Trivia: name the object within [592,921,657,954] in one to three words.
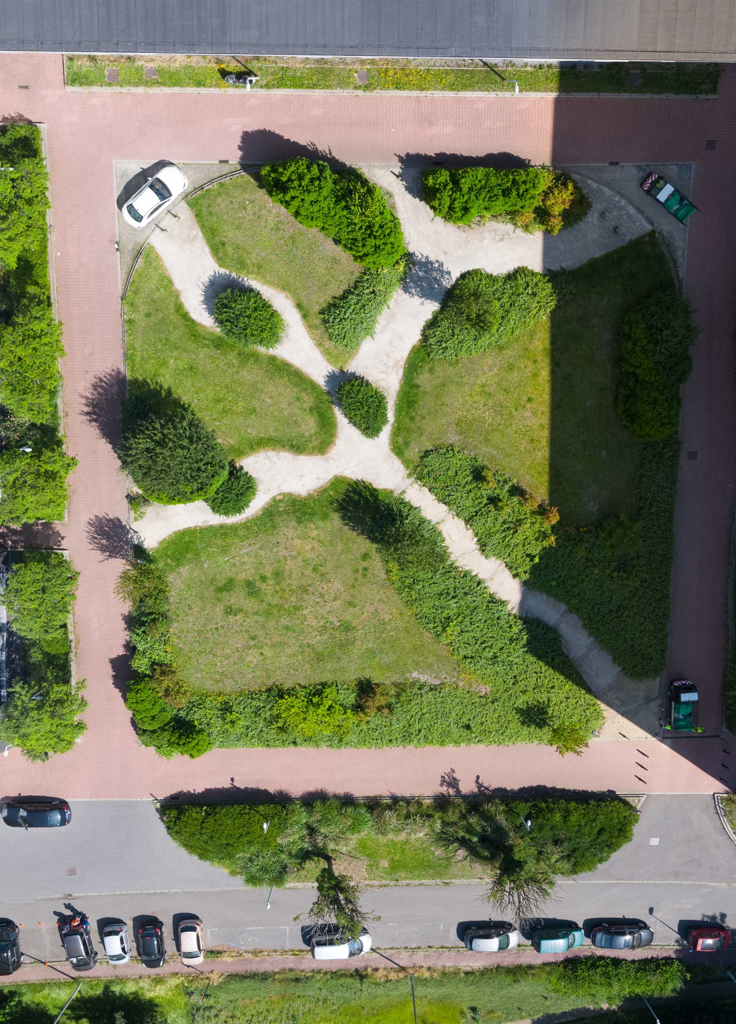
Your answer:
car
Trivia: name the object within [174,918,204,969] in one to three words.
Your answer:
car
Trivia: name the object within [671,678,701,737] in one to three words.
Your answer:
truck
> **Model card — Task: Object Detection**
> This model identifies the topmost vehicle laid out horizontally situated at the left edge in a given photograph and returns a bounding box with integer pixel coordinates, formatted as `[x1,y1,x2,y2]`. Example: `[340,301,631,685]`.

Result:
[0,800,69,833]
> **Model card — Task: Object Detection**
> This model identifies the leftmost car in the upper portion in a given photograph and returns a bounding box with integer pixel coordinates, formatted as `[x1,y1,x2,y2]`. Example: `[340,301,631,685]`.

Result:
[119,162,190,231]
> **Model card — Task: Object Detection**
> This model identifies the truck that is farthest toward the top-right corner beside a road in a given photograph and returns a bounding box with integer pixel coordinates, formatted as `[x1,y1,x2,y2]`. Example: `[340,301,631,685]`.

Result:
[645,171,707,223]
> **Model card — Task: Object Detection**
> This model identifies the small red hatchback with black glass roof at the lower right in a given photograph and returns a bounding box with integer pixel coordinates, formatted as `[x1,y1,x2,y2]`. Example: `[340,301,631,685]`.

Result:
[689,923,736,955]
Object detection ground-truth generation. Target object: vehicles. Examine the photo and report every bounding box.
[645,171,707,223]
[174,918,204,969]
[119,162,190,231]
[689,923,736,955]
[309,924,371,960]
[465,922,520,954]
[592,921,657,954]
[532,920,586,955]
[98,920,130,971]
[134,921,165,974]
[56,919,94,974]
[0,800,69,833]
[0,921,19,977]
[671,678,701,737]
